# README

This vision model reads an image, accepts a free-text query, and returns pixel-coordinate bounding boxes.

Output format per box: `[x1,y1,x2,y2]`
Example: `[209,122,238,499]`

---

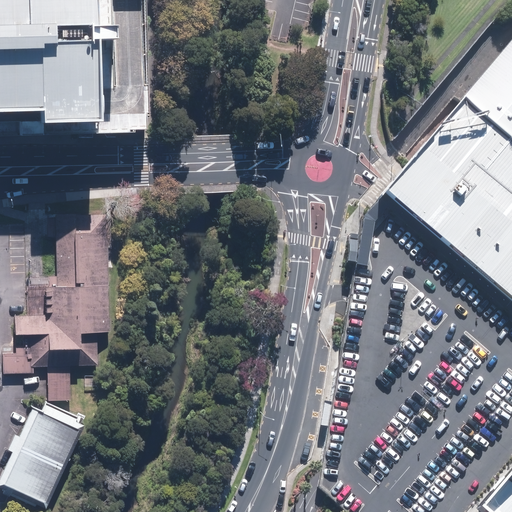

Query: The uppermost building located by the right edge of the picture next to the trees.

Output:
[382,44,512,302]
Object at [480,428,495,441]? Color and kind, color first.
blue vehicle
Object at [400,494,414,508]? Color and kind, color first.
blue vehicle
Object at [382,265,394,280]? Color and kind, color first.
white vehicle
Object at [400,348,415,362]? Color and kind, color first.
blue car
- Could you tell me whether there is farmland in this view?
No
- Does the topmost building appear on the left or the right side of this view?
left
